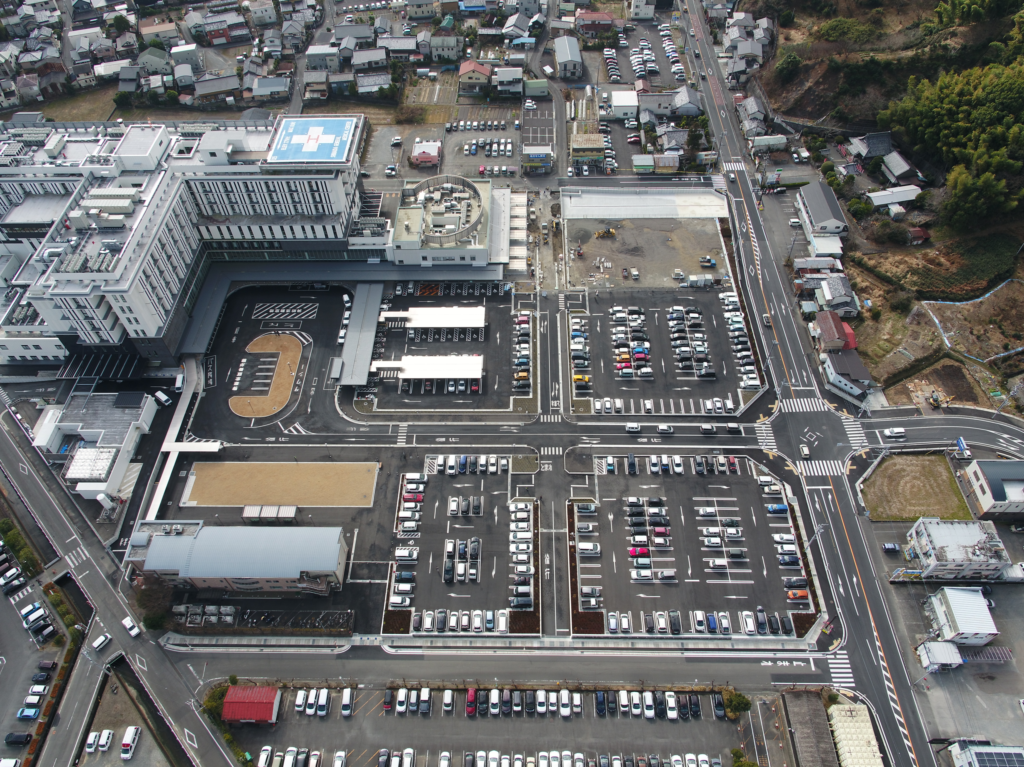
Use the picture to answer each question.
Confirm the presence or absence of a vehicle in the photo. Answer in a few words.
Yes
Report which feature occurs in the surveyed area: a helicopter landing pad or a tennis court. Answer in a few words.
helicopter landing pad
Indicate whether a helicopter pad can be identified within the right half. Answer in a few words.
No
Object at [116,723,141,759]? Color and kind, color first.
white vehicle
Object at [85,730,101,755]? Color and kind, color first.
white car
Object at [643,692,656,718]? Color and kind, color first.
white vehicle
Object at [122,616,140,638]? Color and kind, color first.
white car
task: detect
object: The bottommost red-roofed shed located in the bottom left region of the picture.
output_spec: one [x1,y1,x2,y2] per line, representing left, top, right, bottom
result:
[221,686,280,723]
